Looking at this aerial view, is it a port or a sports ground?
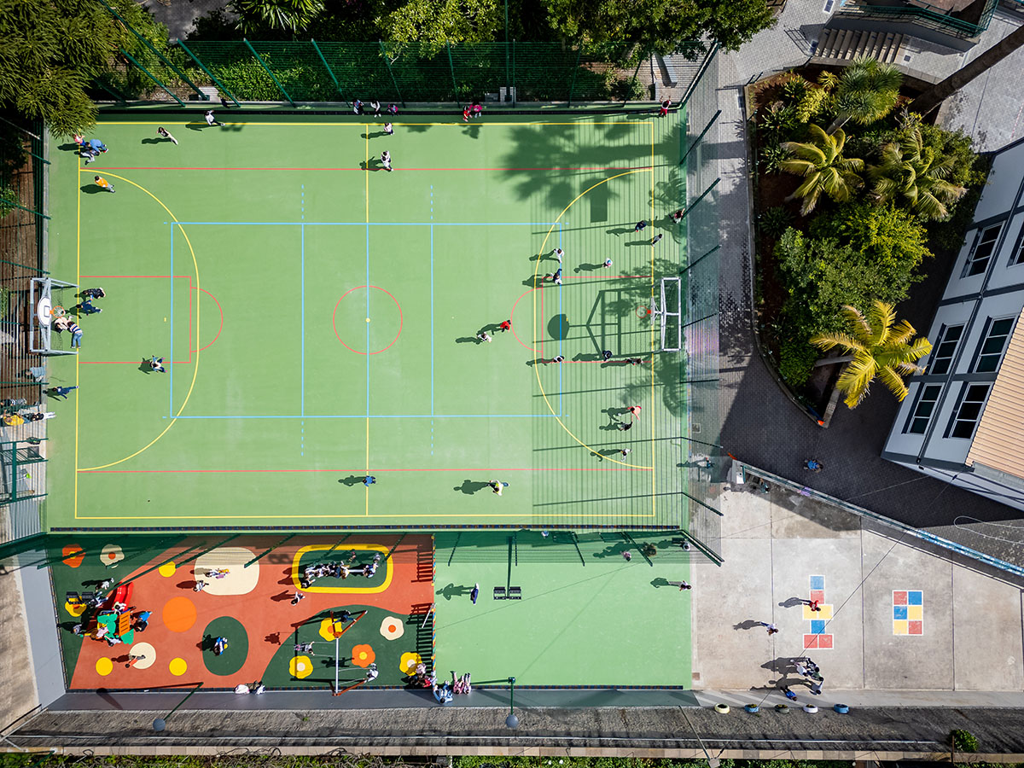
sports ground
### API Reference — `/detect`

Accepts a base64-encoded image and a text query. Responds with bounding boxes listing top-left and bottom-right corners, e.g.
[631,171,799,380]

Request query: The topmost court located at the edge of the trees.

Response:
[44,103,688,535]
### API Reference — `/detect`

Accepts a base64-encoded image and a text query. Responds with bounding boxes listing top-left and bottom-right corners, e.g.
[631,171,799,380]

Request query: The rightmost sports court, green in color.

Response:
[434,535,692,688]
